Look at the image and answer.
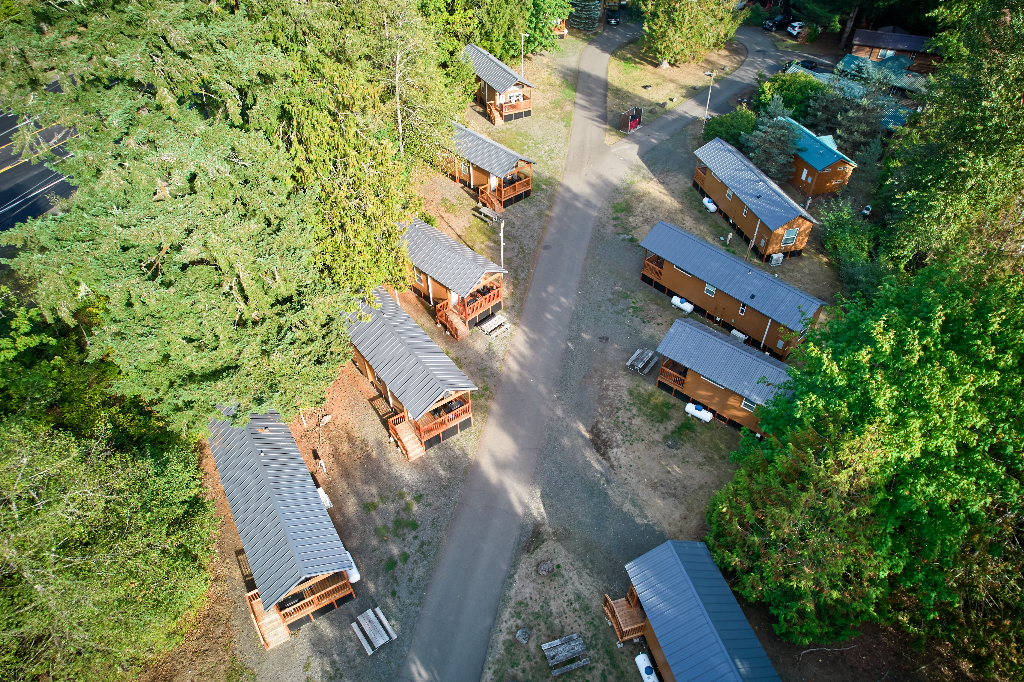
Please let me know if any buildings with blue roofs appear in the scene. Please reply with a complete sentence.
Yes, a building with a blue roof is visible in the scene.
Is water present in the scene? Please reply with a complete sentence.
No, there's no water in this view.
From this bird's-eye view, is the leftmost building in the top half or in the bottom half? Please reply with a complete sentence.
The bottom half of the photo is where the leftmost building is.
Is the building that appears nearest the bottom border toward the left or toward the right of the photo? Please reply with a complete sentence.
The building that appears nearest the bottom border sits on the right side.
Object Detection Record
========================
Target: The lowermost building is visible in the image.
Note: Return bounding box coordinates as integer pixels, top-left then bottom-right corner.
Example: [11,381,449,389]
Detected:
[601,540,782,682]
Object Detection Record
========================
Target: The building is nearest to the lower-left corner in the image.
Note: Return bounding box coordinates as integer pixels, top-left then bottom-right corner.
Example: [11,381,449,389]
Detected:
[202,392,355,654]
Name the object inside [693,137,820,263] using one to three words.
building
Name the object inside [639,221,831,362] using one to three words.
building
